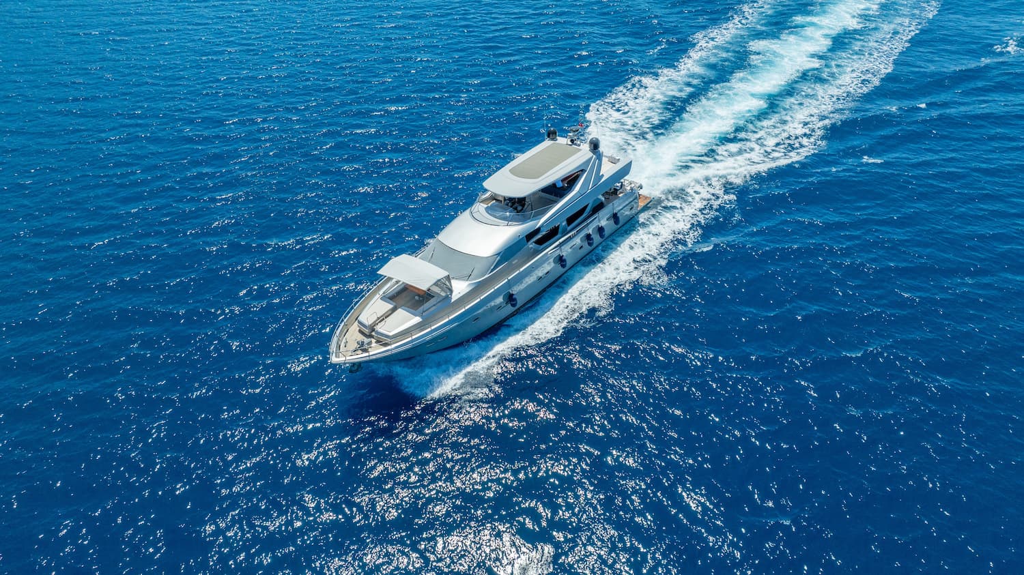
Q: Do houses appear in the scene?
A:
No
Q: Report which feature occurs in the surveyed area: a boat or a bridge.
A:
boat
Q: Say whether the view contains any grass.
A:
No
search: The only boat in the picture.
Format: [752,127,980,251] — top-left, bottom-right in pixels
[328,119,650,378]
